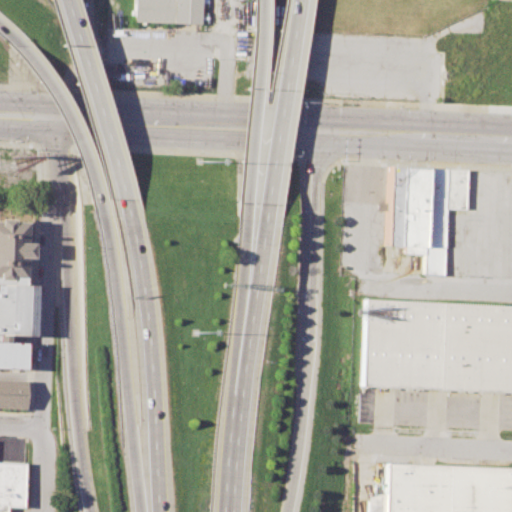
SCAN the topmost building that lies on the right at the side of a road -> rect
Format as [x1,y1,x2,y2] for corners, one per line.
[394,168,470,276]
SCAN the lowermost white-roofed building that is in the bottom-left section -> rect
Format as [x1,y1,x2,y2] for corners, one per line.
[0,462,29,508]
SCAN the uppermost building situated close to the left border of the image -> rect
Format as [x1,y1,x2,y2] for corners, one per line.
[0,220,40,284]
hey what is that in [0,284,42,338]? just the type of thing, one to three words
building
